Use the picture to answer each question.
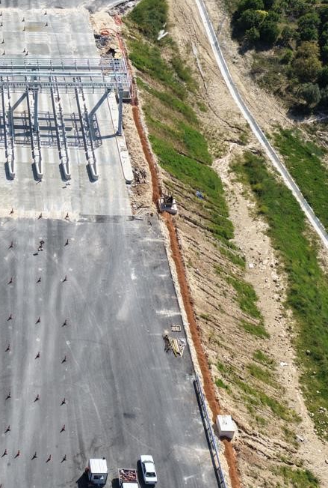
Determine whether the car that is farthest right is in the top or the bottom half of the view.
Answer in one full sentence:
You can find the car that is farthest right in the bottom half.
